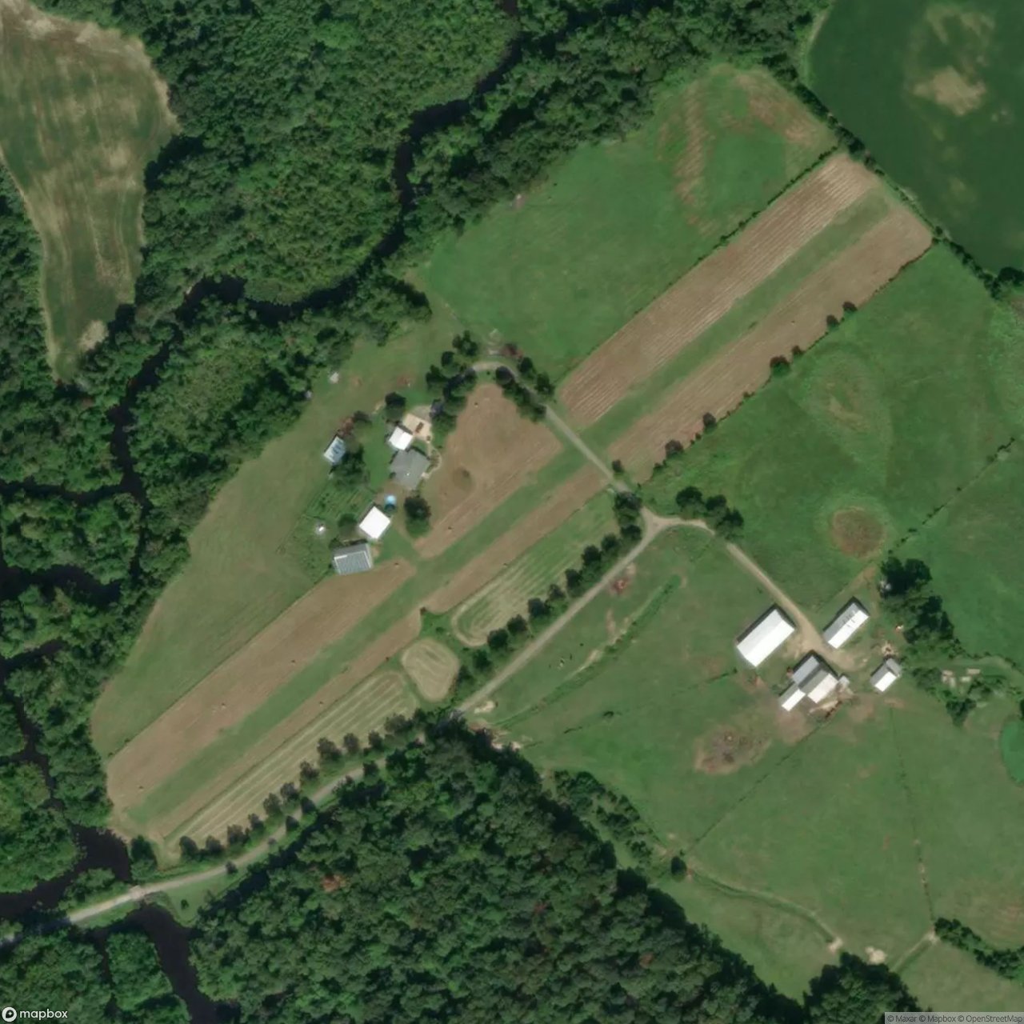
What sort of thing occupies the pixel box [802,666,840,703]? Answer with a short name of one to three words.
barn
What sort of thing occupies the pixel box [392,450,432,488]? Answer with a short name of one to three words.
house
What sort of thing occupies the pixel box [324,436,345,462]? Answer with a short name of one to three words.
shed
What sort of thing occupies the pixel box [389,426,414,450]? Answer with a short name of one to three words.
building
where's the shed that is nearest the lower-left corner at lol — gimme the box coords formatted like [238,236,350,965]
[333,543,373,575]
